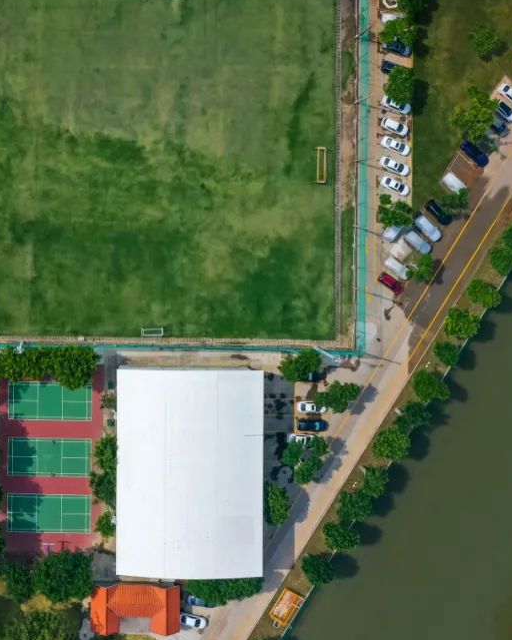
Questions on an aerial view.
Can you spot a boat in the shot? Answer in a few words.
No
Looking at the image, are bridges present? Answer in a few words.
No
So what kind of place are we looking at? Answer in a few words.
sports ground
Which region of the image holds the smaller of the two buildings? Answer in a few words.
bottom left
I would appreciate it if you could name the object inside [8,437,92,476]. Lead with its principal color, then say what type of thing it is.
green sports court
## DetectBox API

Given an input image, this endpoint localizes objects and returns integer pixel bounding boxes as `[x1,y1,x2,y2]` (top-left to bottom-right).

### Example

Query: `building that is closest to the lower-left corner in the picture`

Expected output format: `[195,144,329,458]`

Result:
[91,582,181,637]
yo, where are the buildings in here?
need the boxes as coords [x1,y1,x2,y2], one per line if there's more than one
[115,368,263,579]
[91,582,181,637]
